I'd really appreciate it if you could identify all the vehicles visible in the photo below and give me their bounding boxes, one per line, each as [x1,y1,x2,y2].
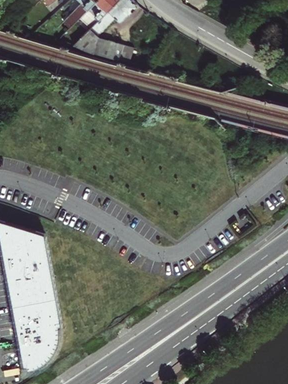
[180,260,187,272]
[218,232,228,244]
[26,198,33,208]
[20,194,28,206]
[186,258,194,268]
[68,216,76,228]
[82,188,90,200]
[166,264,171,275]
[74,218,82,230]
[102,198,110,208]
[97,232,105,242]
[0,308,8,313]
[58,209,66,220]
[174,264,180,275]
[212,238,222,248]
[119,246,126,256]
[0,186,6,198]
[63,213,72,225]
[12,190,19,202]
[130,217,138,228]
[6,190,12,200]
[276,190,286,202]
[102,234,110,244]
[224,229,233,239]
[270,194,280,206]
[128,252,136,264]
[206,242,216,254]
[265,199,274,209]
